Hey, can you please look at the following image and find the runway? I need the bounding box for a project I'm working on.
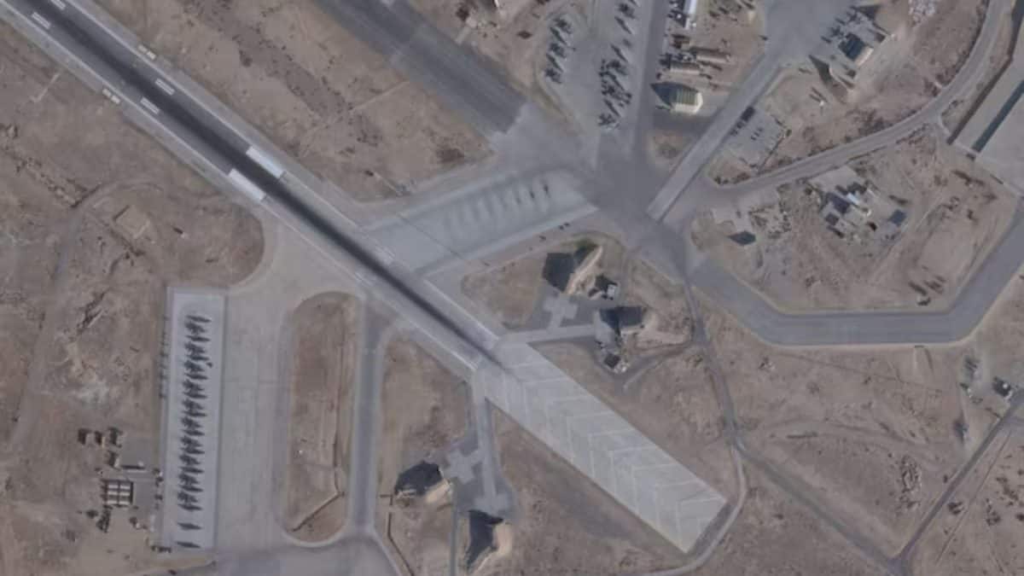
[1,0,733,560]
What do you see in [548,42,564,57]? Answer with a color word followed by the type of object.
gray airplane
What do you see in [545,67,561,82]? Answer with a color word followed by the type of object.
gray airplane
